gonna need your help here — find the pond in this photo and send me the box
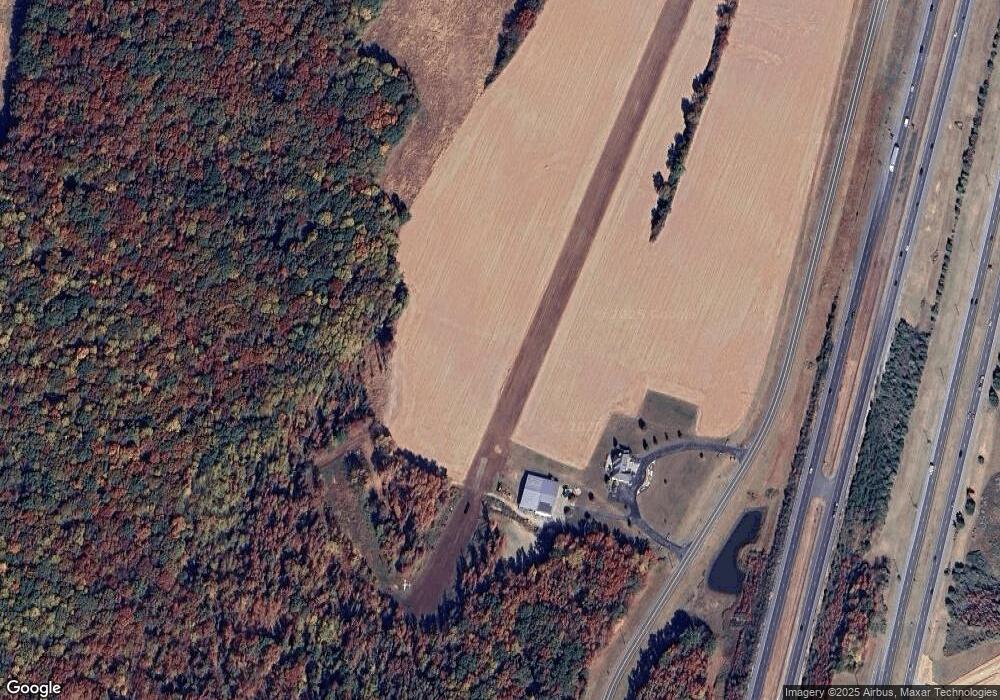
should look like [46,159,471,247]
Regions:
[709,510,761,594]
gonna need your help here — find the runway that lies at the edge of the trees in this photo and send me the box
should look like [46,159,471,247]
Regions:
[398,0,692,616]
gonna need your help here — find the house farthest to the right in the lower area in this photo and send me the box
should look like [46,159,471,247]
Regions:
[607,449,643,487]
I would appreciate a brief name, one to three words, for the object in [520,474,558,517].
shed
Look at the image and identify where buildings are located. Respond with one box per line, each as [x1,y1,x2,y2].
[607,449,643,487]
[520,474,558,517]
